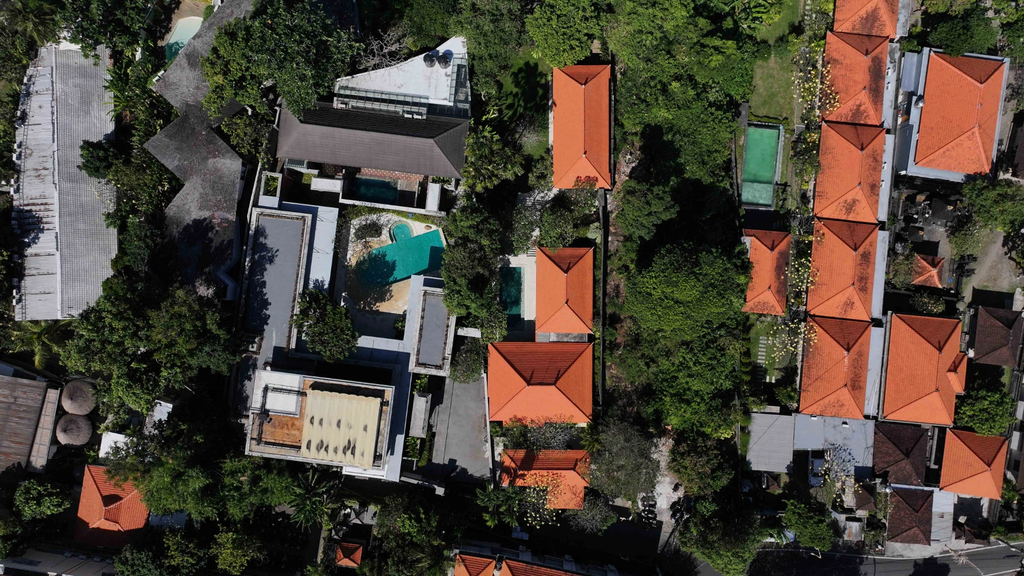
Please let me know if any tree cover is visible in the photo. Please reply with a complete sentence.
Yes, tree cover shows up in the scene.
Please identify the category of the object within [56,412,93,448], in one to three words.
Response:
umbrella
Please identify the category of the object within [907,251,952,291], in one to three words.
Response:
building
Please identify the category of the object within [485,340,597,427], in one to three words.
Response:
house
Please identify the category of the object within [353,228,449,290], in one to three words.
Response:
swimming pool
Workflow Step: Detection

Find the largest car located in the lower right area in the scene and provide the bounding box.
[809,458,825,487]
